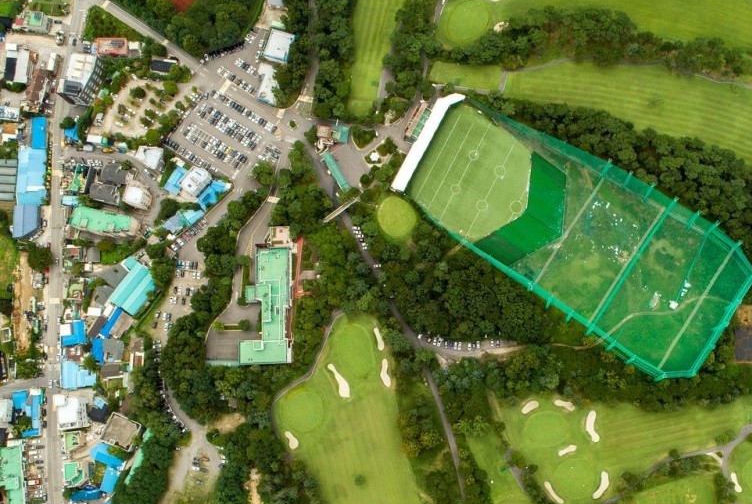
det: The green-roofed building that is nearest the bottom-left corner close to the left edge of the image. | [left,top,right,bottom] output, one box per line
[0,444,29,504]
